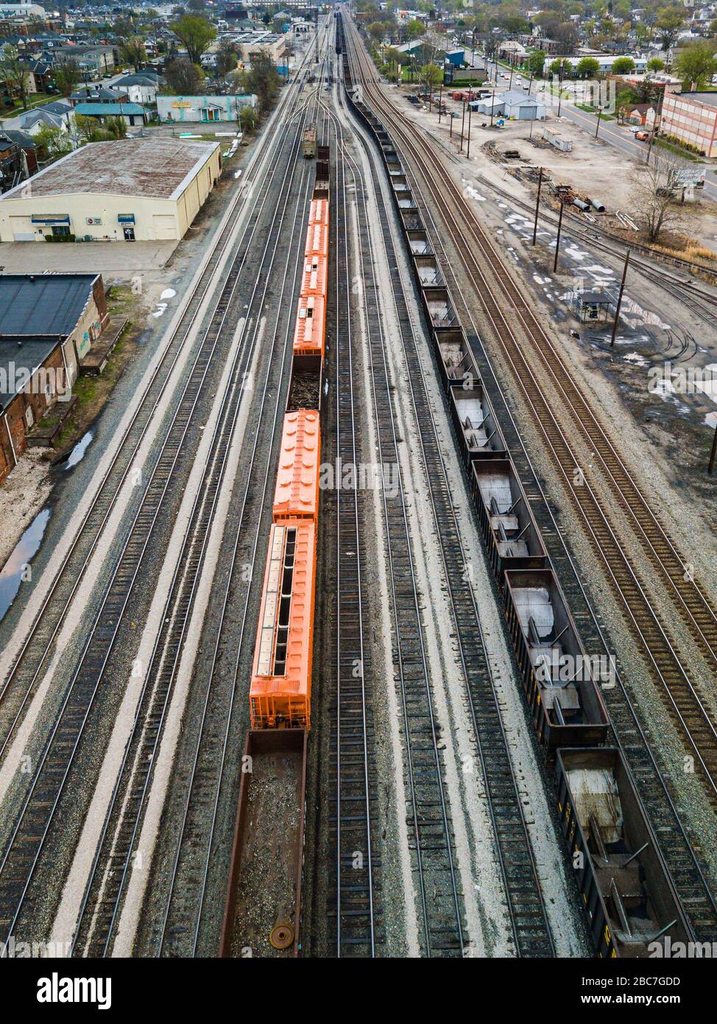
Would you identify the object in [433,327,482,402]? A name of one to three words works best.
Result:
rail car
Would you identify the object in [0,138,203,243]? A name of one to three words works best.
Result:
building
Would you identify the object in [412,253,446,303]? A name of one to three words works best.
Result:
rail car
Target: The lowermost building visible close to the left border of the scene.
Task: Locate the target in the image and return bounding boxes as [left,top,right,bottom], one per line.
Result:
[0,274,117,487]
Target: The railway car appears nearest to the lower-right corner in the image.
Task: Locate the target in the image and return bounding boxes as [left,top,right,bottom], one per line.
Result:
[551,748,717,1024]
